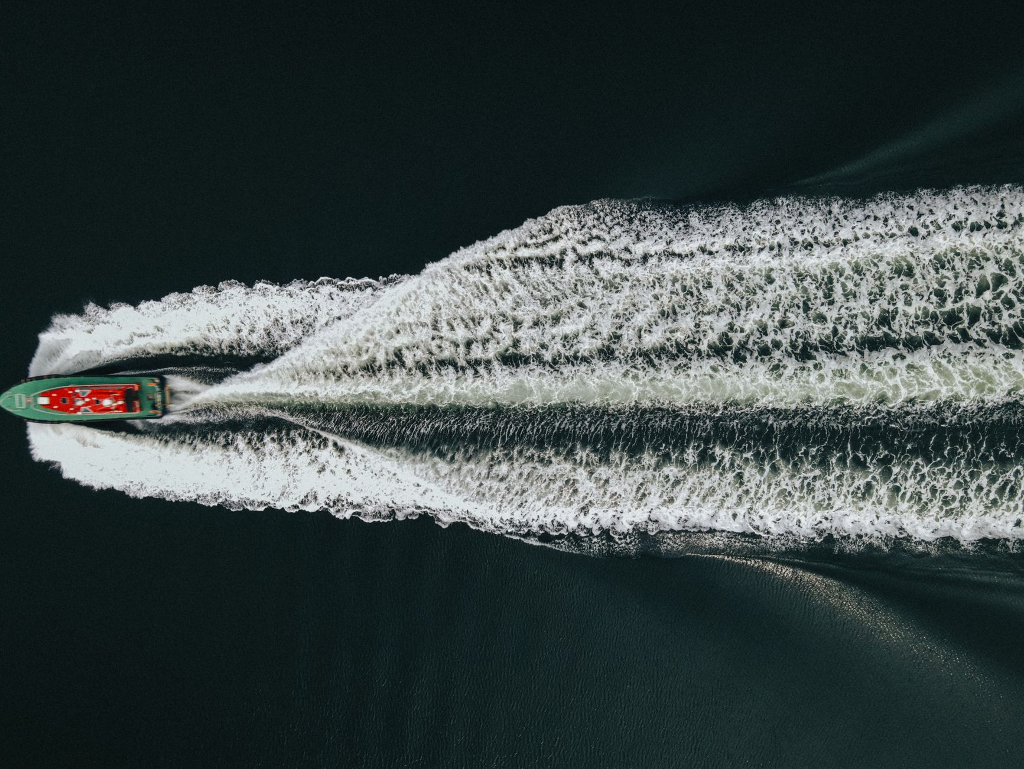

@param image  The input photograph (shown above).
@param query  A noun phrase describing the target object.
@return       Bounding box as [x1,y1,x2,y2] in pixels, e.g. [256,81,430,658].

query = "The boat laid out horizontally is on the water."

[0,375,170,426]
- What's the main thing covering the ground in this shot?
water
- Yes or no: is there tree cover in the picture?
No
